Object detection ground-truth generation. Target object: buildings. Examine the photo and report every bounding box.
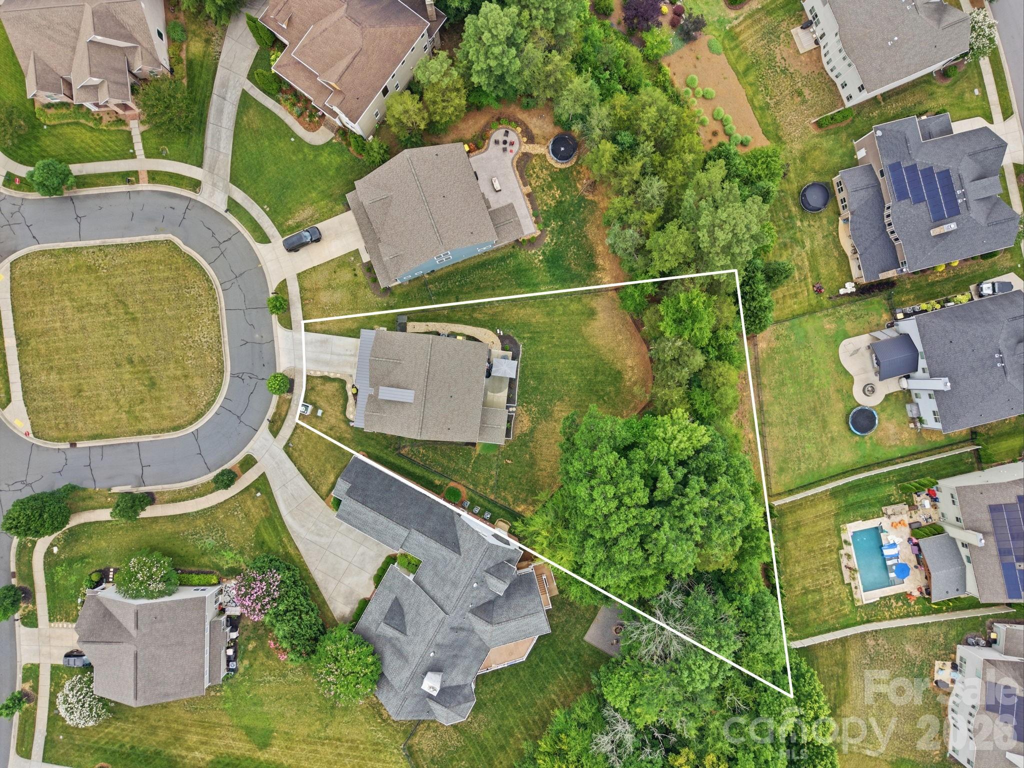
[801,0,971,108]
[949,622,1024,768]
[831,112,1020,284]
[346,142,525,289]
[0,0,181,122]
[257,0,444,137]
[74,582,234,708]
[911,462,1024,603]
[353,329,509,445]
[894,289,1024,434]
[332,455,560,726]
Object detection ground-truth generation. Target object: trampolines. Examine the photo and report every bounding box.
[852,406,881,436]
[548,131,578,163]
[803,179,838,212]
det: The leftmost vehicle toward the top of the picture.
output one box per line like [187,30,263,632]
[279,226,321,253]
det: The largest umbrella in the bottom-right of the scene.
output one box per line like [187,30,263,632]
[892,562,911,579]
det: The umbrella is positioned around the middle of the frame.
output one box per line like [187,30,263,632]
[491,358,517,379]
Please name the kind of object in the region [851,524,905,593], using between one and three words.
swimming pool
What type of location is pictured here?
residential area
